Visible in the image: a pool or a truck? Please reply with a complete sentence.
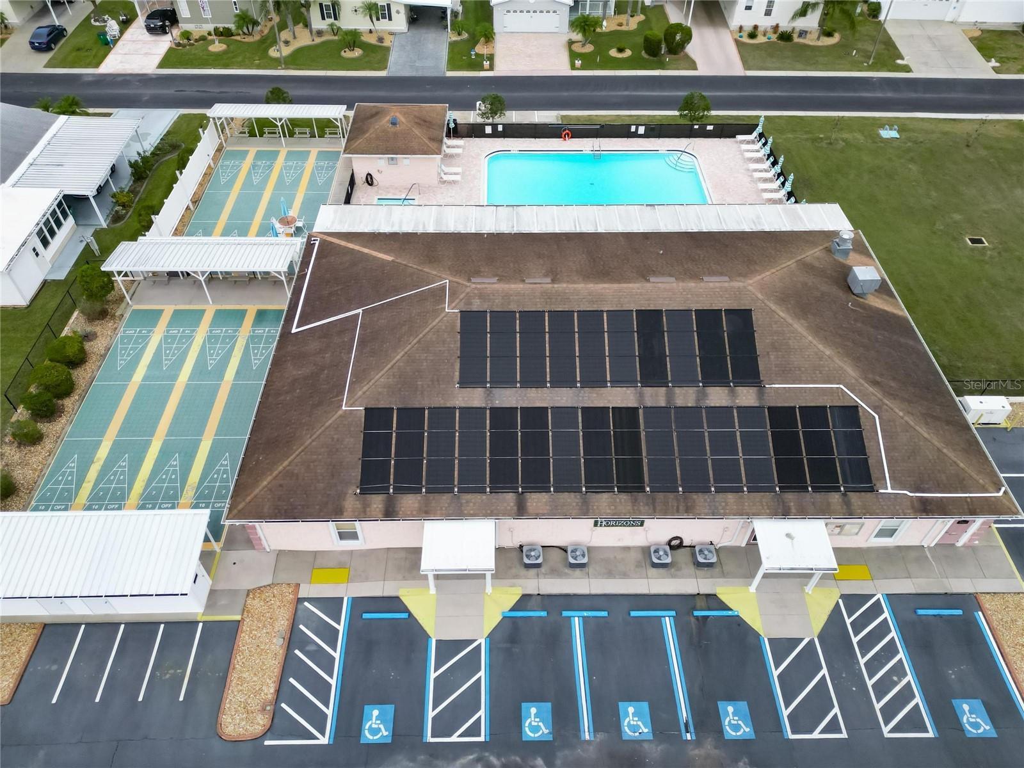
The one in the frame is a pool.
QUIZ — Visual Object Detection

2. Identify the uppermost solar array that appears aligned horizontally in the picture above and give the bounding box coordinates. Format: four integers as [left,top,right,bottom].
[455,309,764,387]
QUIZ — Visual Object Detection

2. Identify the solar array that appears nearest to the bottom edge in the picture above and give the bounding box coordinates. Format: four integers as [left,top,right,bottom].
[356,405,877,494]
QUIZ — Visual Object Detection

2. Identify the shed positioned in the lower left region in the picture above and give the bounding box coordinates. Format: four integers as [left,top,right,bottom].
[0,508,223,624]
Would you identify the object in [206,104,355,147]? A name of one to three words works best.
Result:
building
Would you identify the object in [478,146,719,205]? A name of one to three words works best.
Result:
swimming pool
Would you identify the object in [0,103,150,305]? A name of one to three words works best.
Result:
house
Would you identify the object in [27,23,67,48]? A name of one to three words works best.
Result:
car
